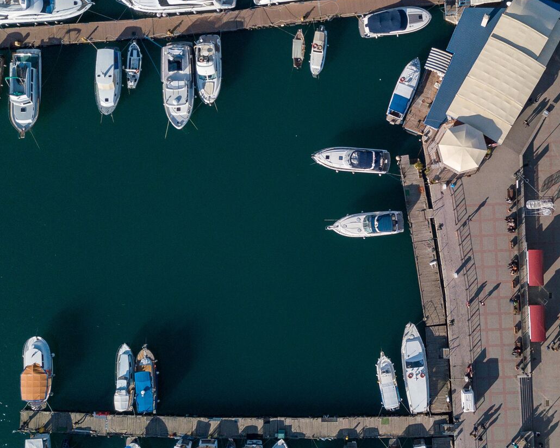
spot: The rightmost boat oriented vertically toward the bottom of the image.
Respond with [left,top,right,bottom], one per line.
[401,318,431,417]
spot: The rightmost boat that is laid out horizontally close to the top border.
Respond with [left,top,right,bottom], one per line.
[355,4,440,38]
